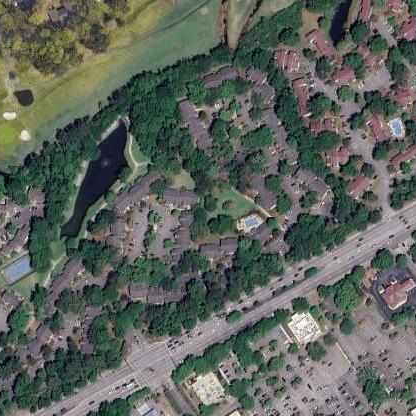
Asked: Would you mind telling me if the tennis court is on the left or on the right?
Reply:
left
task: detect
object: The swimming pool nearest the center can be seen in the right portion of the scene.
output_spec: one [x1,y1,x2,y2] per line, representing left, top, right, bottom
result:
[237,216,264,232]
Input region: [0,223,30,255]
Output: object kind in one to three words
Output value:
building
